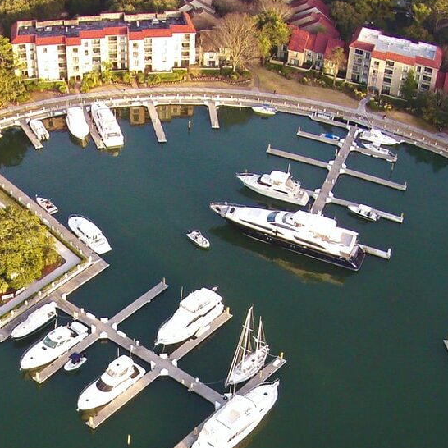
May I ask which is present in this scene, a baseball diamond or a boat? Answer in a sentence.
Looking from above, you can make out a boat.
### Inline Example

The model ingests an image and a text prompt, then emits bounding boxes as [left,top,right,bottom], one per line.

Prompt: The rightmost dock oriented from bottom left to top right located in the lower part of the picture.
[229,357,290,398]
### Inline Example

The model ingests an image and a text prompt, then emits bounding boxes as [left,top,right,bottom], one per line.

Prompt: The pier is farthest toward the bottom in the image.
[172,401,225,448]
